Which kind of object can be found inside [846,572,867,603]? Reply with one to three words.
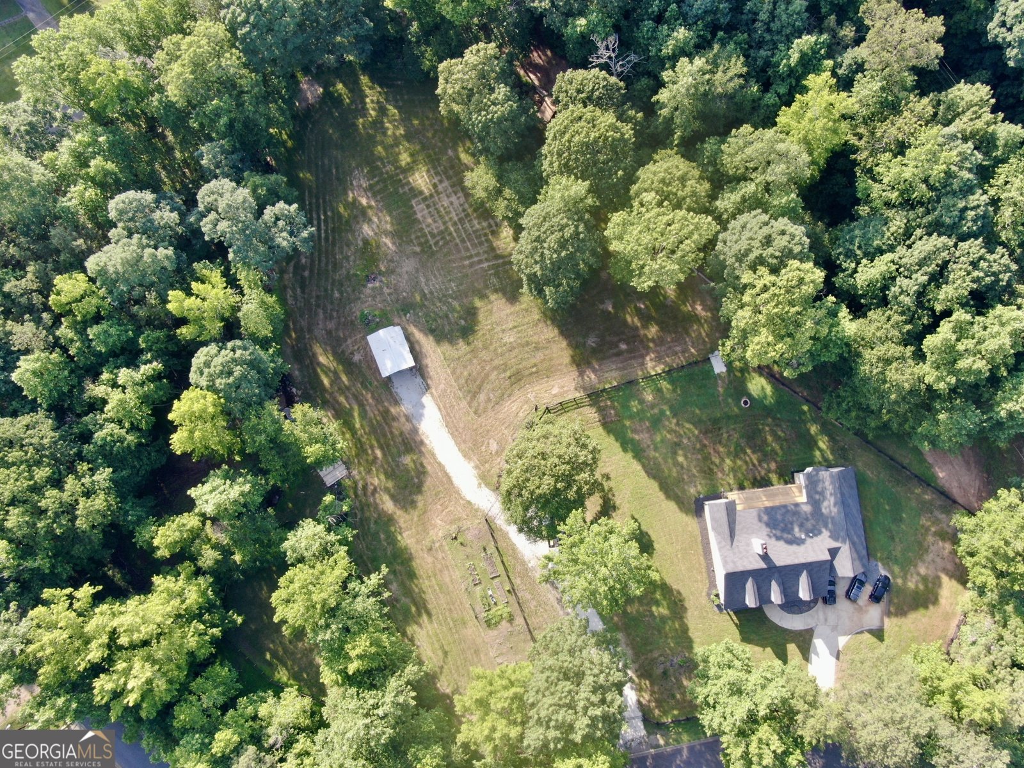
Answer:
car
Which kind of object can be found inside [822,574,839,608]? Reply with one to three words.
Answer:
vehicle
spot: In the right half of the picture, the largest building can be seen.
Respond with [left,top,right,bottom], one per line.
[706,461,869,611]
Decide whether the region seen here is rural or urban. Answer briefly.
rural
